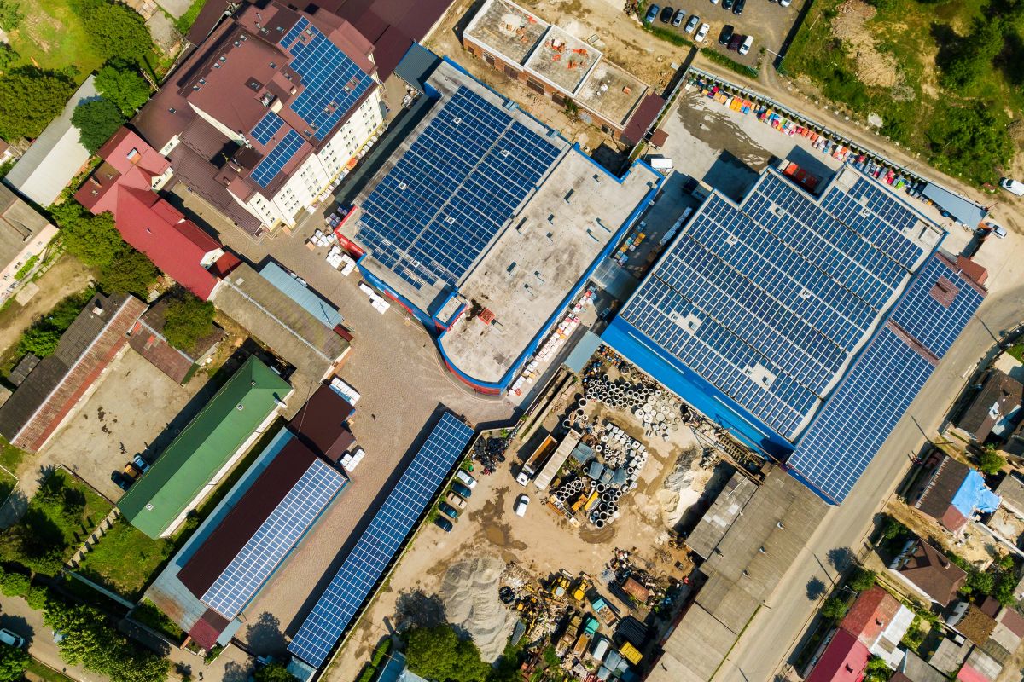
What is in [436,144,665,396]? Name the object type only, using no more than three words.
building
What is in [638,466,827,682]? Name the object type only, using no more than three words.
warehouse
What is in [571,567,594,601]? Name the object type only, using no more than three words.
work vehicle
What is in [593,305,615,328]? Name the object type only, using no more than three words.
car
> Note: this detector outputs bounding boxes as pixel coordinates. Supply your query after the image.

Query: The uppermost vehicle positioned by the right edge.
[997,175,1024,199]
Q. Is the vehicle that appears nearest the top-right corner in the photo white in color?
Yes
